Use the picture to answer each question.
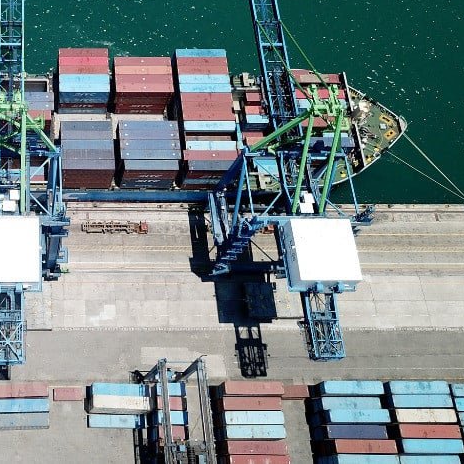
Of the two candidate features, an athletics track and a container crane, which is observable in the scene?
container crane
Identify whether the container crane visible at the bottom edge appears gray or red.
gray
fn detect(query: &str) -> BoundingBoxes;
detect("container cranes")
[199,0,379,366]
[141,357,222,464]
[0,0,81,365]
